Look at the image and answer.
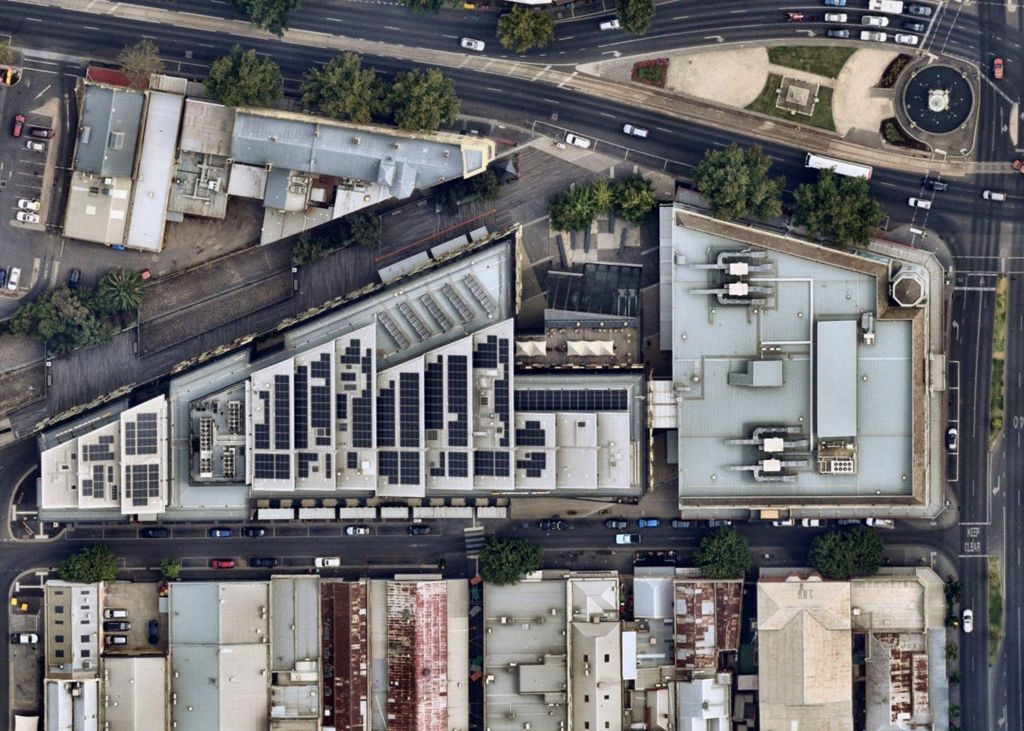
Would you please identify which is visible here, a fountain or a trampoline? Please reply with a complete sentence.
The one in the frame is a fountain.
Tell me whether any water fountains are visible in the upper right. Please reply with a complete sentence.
Yes, a water fountain can be seen in the upper right.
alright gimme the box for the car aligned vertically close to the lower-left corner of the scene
[147,620,159,645]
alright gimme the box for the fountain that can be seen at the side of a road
[902,63,975,135]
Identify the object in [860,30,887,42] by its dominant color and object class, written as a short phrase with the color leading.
white vehicle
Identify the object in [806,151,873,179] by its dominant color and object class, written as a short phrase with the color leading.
white bus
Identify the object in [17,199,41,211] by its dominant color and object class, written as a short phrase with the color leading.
white vehicle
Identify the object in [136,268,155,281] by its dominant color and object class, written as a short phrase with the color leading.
red vehicle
